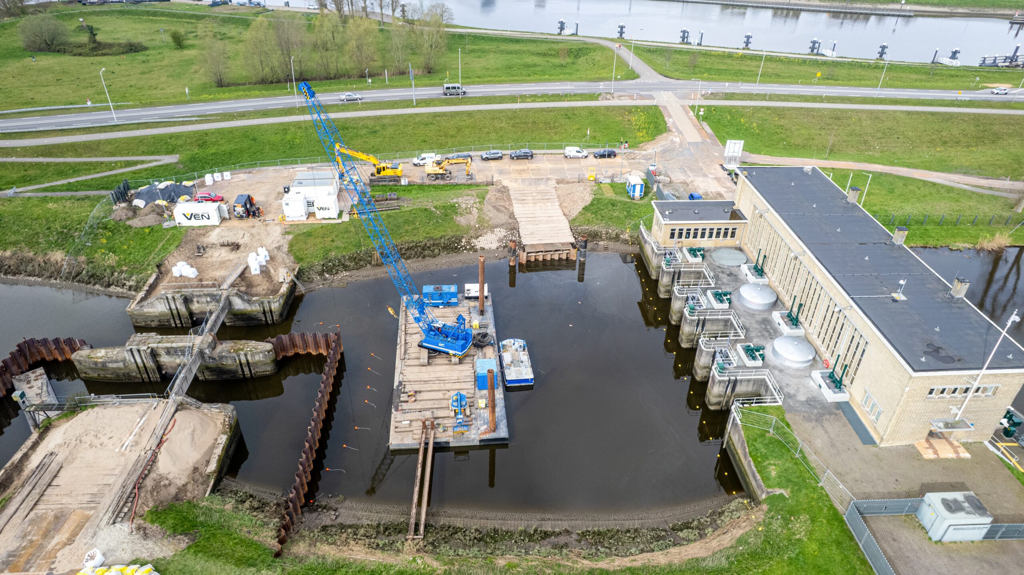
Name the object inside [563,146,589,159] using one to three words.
vehicle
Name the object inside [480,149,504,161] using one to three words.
vehicle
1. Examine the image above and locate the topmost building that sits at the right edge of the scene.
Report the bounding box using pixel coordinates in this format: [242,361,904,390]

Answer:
[729,165,1024,446]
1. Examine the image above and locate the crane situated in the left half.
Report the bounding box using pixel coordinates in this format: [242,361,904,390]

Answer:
[293,82,475,365]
